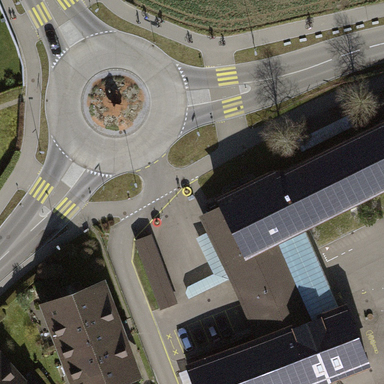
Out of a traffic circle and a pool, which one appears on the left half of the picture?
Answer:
traffic circle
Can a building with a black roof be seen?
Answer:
Yes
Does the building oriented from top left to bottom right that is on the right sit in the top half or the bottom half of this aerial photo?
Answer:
bottom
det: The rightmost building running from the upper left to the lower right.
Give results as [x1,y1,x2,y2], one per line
[199,210,310,330]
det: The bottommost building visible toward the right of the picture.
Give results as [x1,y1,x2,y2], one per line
[176,304,370,384]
